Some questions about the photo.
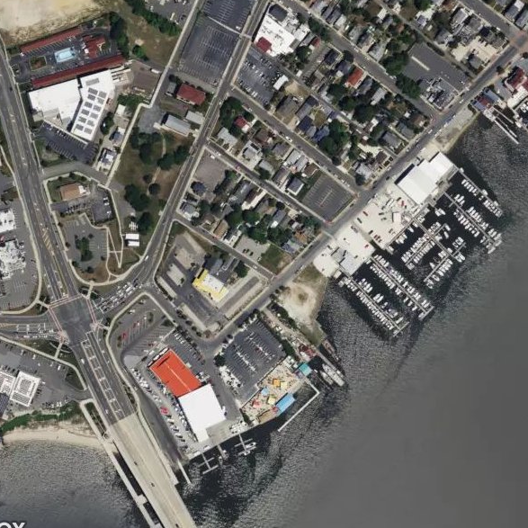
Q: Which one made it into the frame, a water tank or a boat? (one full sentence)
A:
Looking from above, you can make out a boat.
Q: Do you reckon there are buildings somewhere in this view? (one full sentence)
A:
Yes, the picture does show a building.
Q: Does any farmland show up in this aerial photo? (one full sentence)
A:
No, farmland can't be seen anywhere here.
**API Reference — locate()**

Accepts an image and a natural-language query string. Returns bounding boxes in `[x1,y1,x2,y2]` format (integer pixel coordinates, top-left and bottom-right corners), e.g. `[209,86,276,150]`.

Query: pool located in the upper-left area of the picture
[54,46,76,64]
